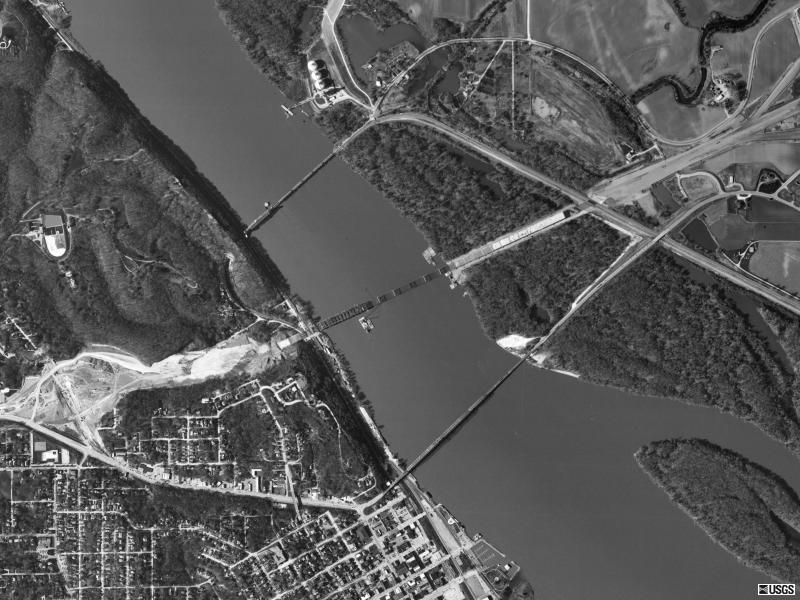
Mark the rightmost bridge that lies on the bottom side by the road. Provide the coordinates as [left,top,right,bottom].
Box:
[392,346,545,484]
